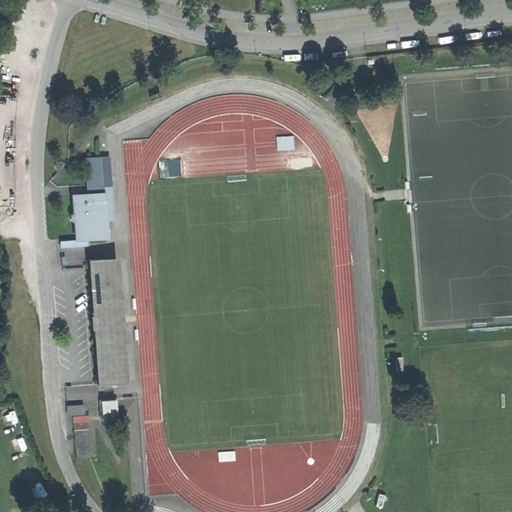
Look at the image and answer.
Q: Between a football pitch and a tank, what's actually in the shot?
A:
football pitch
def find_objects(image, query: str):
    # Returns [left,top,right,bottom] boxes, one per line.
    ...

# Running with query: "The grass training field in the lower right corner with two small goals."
[419,338,512,512]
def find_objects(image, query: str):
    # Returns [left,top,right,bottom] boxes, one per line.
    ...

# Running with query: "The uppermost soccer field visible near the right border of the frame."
[402,67,512,330]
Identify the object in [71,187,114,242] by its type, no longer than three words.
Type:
building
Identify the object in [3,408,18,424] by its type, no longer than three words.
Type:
camper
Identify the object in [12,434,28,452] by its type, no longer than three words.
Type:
camper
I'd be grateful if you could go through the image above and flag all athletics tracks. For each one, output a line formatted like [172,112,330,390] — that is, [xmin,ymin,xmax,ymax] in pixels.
[123,95,362,512]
